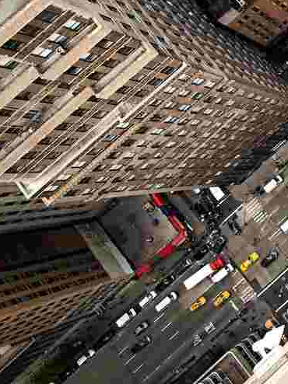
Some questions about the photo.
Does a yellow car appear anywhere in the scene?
Yes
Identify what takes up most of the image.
buildings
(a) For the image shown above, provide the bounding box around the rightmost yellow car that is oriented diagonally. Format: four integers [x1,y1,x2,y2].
[240,252,260,271]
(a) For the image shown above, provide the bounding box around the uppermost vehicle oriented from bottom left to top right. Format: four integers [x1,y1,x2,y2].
[261,174,283,195]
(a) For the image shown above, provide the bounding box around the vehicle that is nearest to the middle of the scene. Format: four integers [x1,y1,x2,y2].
[205,185,230,199]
